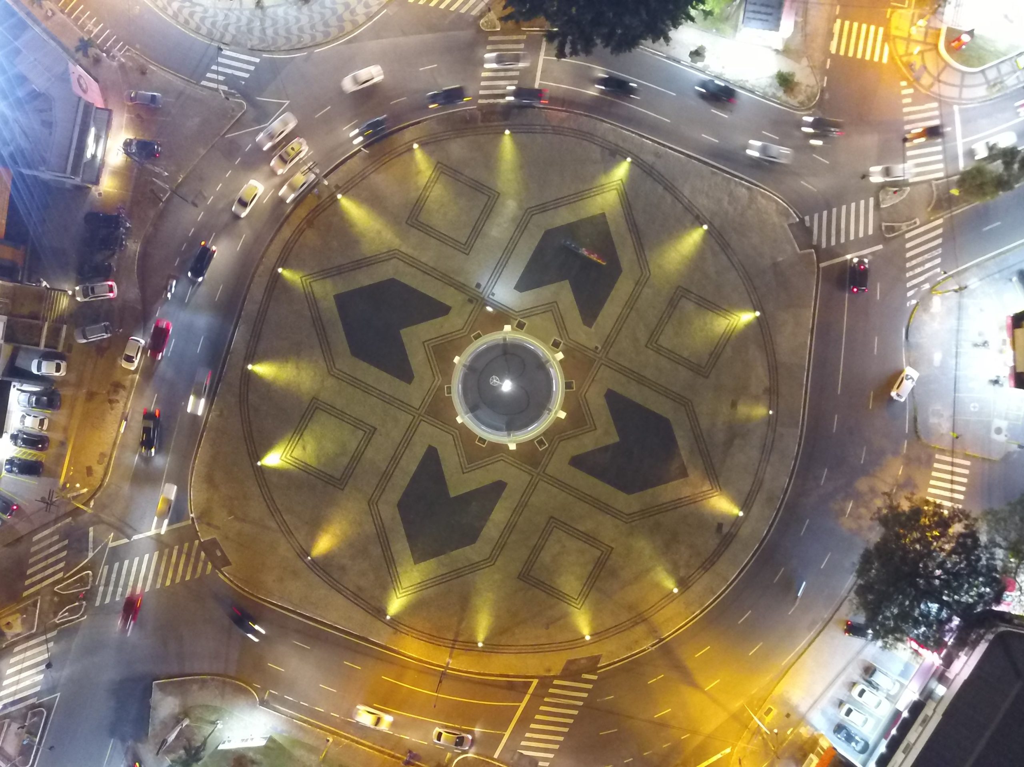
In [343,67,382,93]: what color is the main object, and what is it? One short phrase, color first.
white car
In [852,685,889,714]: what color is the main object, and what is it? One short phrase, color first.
white car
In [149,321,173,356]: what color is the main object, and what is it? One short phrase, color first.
red car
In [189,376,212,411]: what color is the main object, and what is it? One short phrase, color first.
gray car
